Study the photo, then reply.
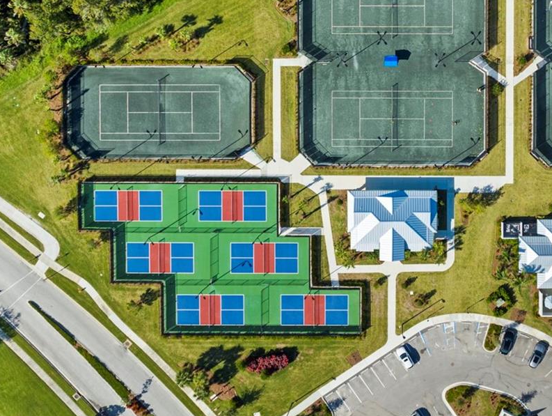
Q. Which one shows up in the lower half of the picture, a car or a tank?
car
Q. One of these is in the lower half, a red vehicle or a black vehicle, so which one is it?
black vehicle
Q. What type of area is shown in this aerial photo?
sports ground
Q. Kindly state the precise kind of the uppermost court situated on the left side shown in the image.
tennis court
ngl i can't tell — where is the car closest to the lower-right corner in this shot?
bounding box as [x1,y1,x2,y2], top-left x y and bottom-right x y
[529,342,547,366]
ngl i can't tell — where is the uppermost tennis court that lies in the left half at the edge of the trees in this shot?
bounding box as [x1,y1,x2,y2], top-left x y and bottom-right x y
[67,66,249,158]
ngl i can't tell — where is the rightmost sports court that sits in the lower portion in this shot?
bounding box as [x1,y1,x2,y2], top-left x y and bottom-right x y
[265,283,362,331]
